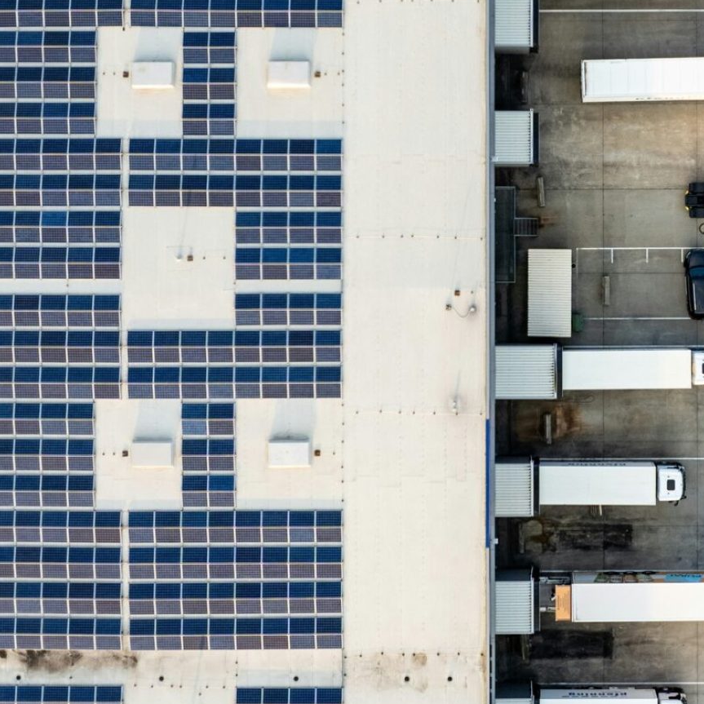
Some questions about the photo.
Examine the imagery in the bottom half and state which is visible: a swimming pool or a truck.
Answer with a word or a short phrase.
truck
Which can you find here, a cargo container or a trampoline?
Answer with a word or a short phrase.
cargo container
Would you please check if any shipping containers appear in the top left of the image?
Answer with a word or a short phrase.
No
